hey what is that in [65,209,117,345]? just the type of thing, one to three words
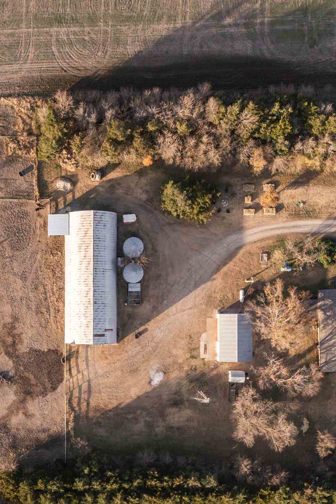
barn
